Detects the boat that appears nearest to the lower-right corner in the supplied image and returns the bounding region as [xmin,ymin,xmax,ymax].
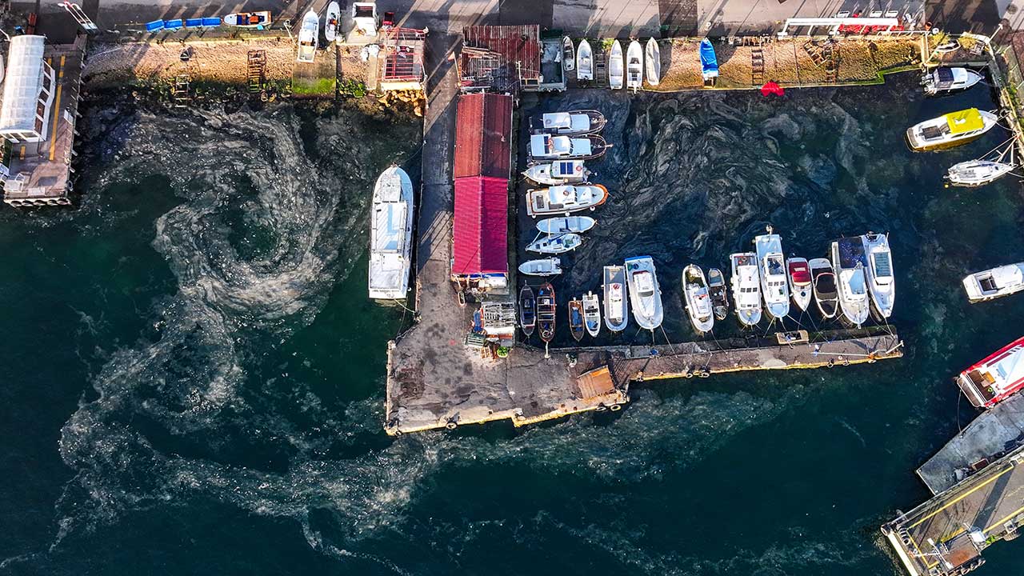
[955,336,1024,408]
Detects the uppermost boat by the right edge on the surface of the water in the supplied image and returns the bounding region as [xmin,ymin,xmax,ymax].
[920,69,984,96]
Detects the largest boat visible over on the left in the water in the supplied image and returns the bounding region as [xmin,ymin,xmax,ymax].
[368,164,417,305]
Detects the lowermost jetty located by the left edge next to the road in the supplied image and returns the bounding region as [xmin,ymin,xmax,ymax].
[0,44,86,203]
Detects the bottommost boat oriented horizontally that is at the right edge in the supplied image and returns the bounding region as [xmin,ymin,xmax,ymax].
[958,265,1024,302]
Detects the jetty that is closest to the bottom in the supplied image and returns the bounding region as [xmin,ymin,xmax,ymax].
[876,448,1024,576]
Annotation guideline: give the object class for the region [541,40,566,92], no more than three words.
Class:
ship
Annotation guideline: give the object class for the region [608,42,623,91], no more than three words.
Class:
boat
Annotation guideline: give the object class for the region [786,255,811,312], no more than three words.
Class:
boat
